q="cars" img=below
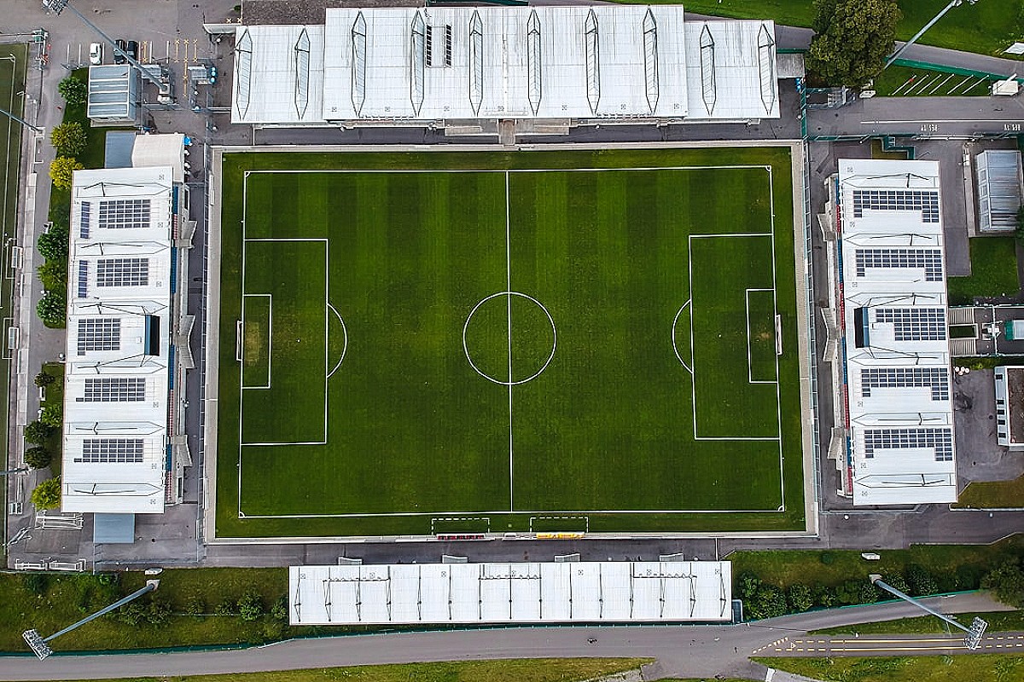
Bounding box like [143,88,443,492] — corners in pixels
[113,41,126,64]
[89,42,103,63]
[127,41,139,65]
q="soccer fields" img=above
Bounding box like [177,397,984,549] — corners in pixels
[205,141,816,540]
[0,42,28,570]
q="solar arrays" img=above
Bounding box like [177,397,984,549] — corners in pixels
[876,308,944,340]
[861,367,946,399]
[73,438,141,462]
[98,199,148,226]
[79,201,88,236]
[96,258,146,285]
[76,318,119,355]
[865,429,950,461]
[856,248,940,280]
[75,378,143,401]
[853,189,937,220]
[77,260,86,296]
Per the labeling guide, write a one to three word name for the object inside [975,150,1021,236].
building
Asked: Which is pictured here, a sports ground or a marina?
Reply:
sports ground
